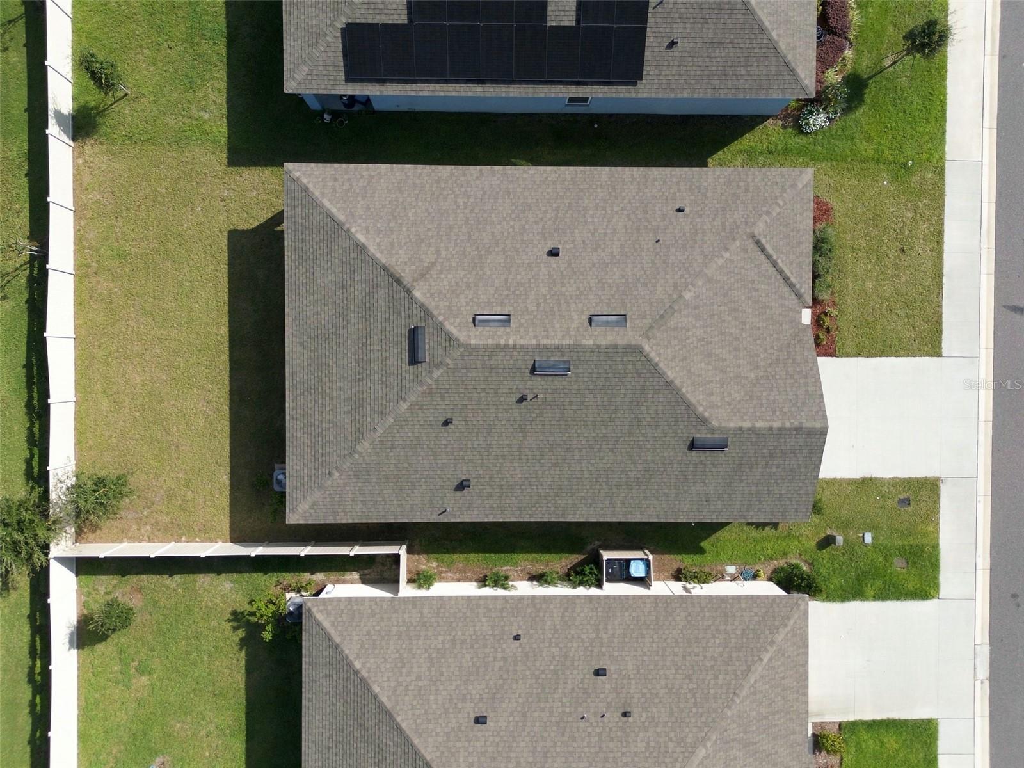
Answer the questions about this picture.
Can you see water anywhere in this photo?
No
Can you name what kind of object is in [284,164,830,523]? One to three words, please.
house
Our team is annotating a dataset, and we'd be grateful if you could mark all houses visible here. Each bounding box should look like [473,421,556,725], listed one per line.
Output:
[284,164,830,523]
[303,581,809,768]
[284,0,815,114]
